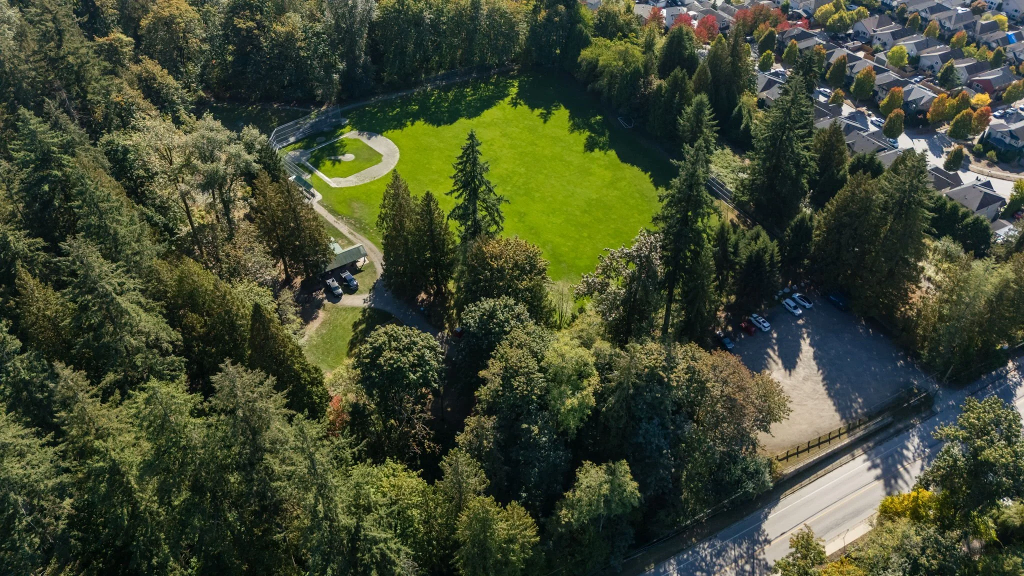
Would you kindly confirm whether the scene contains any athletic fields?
Yes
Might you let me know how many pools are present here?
0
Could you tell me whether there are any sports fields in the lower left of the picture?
No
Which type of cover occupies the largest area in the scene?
trees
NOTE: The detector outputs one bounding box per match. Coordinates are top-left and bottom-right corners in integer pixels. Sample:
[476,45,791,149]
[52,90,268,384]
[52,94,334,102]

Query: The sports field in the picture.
[286,72,721,318]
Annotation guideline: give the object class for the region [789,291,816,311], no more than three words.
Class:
car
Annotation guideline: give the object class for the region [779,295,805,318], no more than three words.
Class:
car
